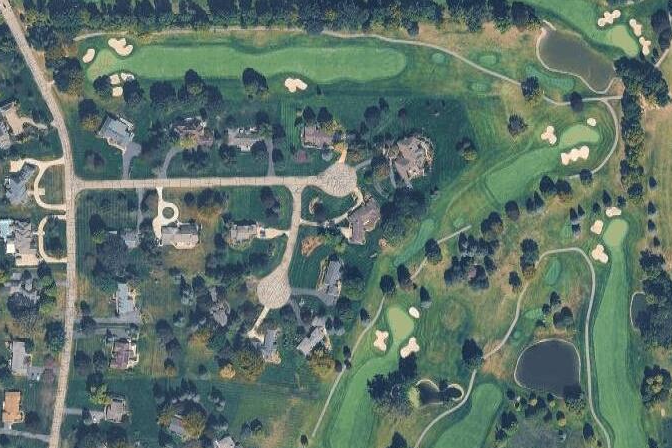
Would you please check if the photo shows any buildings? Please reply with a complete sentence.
Yes, a building can be made out from above.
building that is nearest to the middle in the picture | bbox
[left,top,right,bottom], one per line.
[352,196,379,242]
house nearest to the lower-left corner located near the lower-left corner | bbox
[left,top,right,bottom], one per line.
[2,389,22,422]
